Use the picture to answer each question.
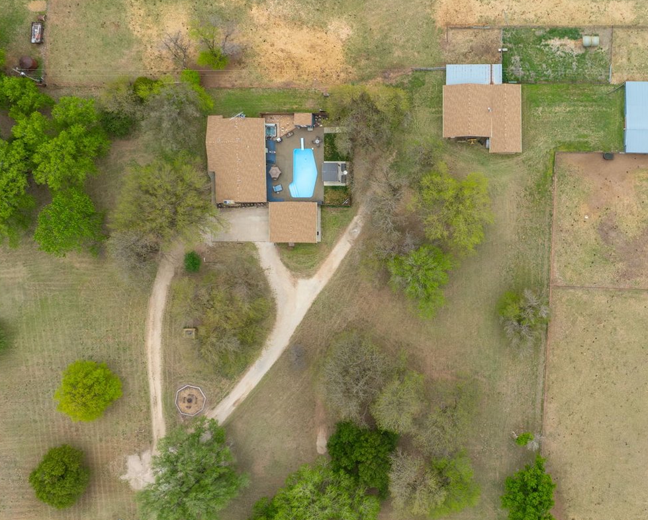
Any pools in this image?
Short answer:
Yes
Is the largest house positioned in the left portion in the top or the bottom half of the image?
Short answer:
top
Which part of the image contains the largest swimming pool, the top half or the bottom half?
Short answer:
top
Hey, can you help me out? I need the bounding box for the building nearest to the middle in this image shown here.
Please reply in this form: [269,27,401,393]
[269,202,320,243]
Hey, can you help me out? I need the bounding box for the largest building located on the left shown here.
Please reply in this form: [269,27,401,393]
[205,115,269,202]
